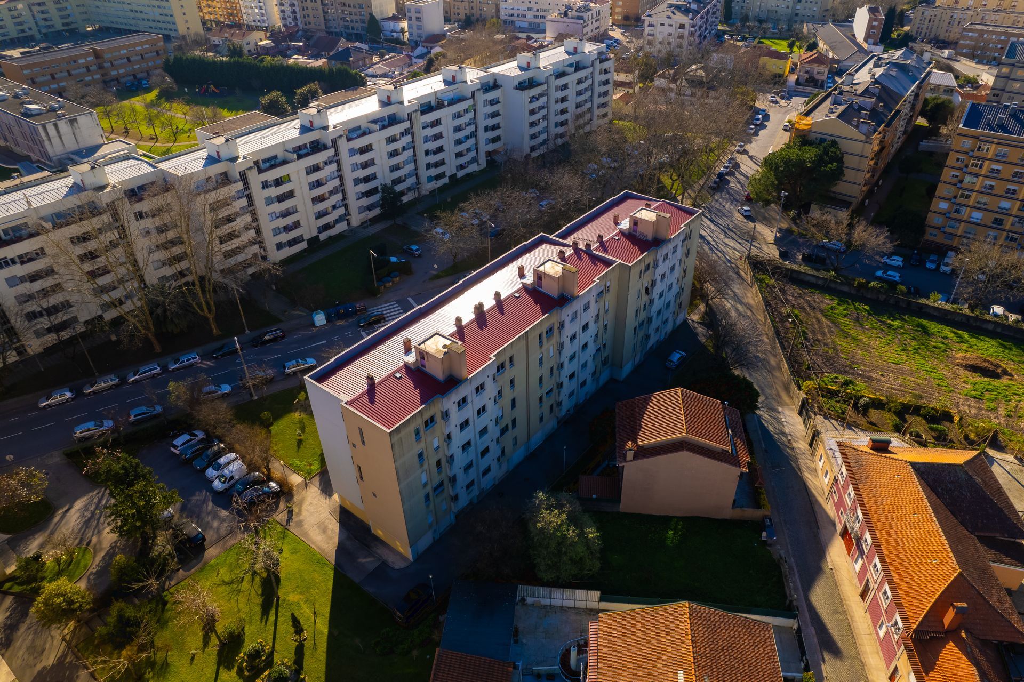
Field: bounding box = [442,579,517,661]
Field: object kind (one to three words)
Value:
shed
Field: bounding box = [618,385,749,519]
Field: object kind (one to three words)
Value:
house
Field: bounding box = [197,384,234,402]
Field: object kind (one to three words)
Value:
car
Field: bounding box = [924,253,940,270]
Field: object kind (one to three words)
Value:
car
